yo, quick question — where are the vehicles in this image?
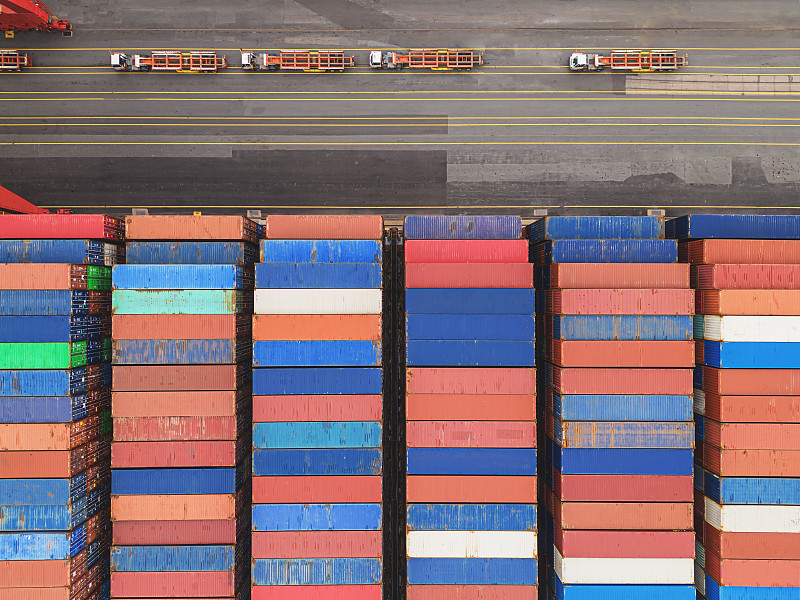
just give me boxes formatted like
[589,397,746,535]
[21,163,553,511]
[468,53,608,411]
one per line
[371,47,482,71]
[242,48,354,73]
[573,48,685,73]
[112,48,227,73]
[0,51,30,73]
